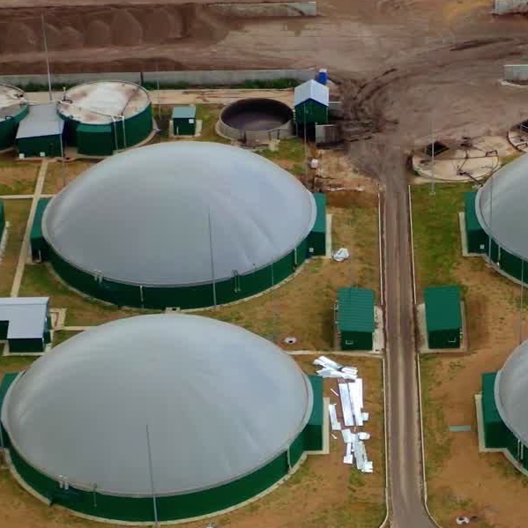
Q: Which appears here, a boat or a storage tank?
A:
storage tank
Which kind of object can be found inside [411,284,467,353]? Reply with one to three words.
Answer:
shed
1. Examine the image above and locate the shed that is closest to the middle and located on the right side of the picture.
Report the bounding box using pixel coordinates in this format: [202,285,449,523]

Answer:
[334,285,389,354]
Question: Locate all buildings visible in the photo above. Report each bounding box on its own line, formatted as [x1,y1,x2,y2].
[0,294,72,362]
[166,105,204,139]
[334,285,389,354]
[411,284,467,353]
[11,101,71,163]
[292,78,330,140]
